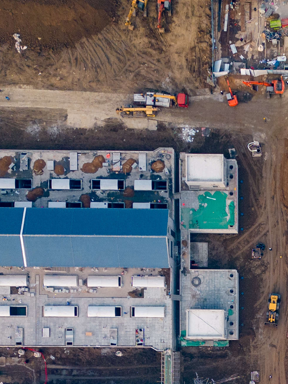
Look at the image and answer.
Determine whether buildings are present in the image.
Yes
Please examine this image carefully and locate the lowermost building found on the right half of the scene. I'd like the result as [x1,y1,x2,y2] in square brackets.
[180,269,242,341]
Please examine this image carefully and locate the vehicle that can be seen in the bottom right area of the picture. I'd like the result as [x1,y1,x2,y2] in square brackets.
[264,292,281,328]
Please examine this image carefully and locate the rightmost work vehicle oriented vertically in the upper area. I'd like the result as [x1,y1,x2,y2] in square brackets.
[224,77,239,108]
